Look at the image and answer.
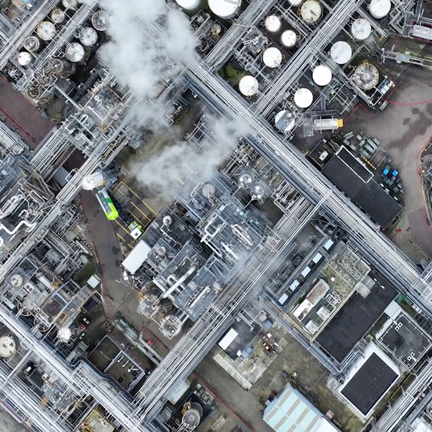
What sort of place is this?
industrial area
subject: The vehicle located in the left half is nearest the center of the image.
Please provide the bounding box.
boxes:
[116,205,144,241]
